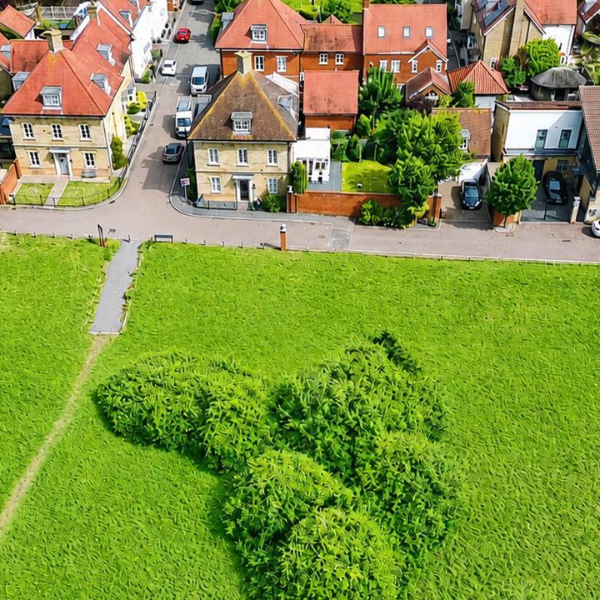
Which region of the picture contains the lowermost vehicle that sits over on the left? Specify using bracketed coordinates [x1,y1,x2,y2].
[159,141,184,166]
